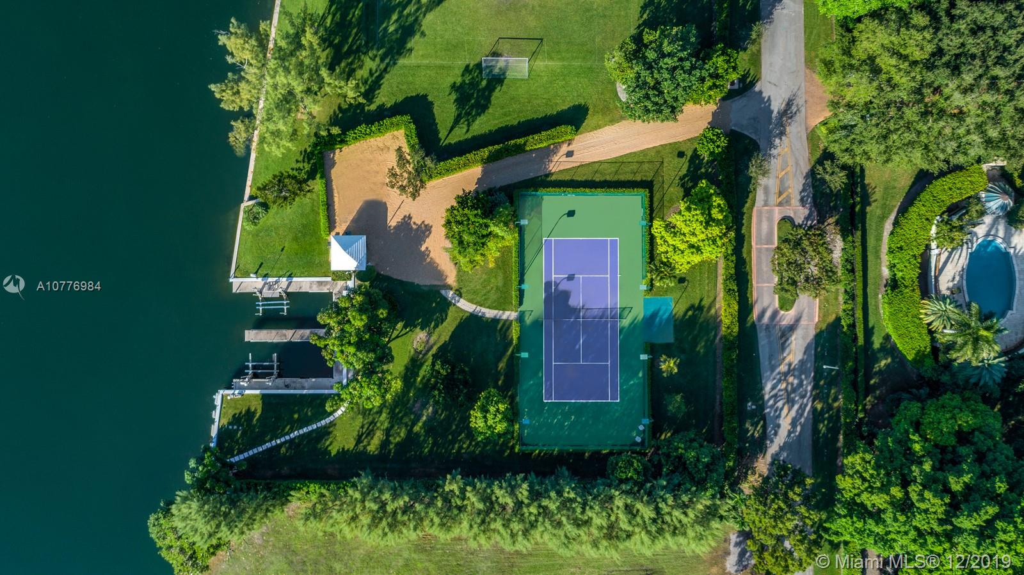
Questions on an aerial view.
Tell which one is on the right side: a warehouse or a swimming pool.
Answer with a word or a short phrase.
swimming pool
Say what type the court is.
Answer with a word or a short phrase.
tennis court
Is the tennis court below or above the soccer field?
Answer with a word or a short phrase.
below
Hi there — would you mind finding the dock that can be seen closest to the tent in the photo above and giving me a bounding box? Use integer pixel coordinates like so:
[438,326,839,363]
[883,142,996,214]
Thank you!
[232,280,347,301]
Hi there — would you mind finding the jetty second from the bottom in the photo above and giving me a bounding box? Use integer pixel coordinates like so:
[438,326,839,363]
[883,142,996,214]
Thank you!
[244,328,322,342]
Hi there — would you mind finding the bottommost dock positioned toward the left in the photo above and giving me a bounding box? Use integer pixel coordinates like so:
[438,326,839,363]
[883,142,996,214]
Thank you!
[234,358,344,389]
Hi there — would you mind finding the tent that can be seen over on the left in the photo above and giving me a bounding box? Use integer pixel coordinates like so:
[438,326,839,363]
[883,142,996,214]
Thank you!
[331,235,369,270]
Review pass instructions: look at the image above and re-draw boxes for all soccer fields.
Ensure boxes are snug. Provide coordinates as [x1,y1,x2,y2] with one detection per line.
[377,0,634,63]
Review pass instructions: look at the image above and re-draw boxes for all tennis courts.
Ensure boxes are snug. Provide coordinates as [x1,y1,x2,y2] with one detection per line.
[519,195,641,445]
